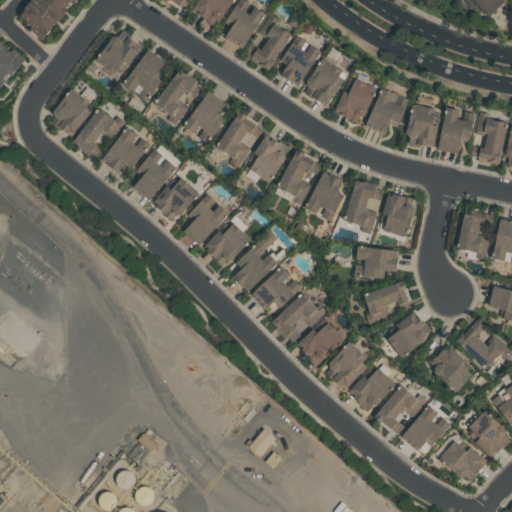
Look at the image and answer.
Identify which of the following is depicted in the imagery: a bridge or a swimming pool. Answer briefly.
swimming pool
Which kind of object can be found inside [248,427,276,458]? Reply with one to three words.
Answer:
shed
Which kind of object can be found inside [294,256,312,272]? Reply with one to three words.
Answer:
swimming pool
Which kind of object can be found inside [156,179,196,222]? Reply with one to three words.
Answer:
house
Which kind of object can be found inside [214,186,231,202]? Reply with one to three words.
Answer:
swimming pool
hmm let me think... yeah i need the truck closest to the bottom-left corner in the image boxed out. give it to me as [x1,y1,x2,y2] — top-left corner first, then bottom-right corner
[80,457,101,482]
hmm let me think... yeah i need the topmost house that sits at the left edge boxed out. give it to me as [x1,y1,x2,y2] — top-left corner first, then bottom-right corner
[24,0,80,34]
